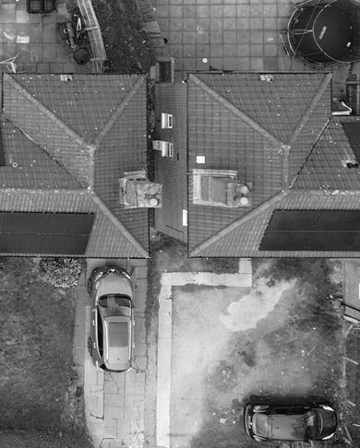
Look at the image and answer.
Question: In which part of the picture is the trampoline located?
top right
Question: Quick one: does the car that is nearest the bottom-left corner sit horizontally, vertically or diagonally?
vertically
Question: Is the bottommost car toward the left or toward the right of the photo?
right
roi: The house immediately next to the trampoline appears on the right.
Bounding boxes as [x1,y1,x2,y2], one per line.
[150,70,360,259]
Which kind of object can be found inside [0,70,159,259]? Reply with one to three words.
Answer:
house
